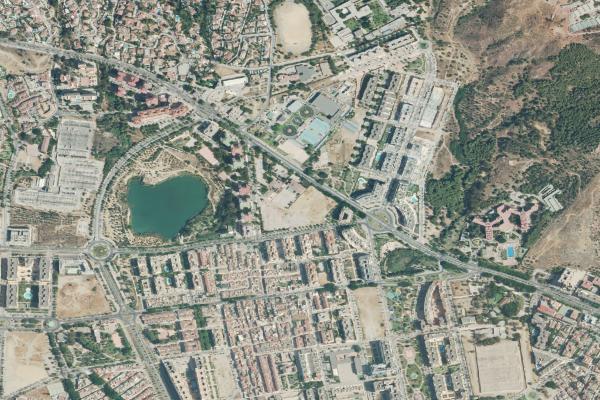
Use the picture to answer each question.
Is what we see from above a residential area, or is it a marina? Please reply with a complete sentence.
The picture captures a residential area.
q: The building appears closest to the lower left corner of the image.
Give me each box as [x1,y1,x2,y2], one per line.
[47,377,67,399]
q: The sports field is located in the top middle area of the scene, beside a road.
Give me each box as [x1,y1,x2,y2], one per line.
[275,0,311,53]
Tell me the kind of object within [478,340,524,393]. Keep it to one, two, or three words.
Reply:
sports field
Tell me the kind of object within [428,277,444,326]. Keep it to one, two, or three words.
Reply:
building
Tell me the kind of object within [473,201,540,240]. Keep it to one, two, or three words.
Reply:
building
